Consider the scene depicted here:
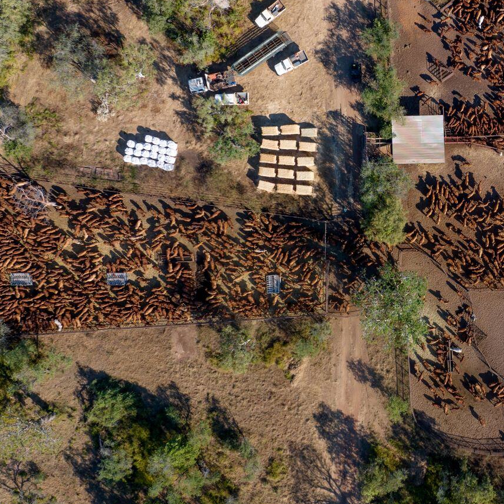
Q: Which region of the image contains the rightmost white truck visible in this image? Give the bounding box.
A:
[275,50,310,75]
